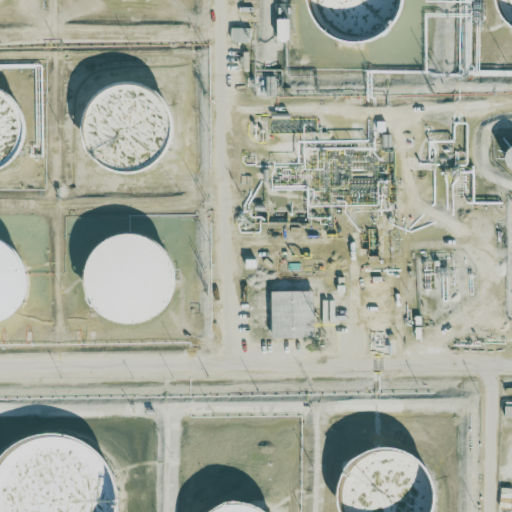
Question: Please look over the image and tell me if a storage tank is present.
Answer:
Yes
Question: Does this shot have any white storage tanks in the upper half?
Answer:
Yes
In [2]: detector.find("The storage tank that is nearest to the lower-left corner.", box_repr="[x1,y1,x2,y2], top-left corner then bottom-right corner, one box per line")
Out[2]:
[0,432,120,512]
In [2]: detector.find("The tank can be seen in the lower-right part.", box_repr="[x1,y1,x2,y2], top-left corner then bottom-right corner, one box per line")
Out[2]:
[336,446,436,512]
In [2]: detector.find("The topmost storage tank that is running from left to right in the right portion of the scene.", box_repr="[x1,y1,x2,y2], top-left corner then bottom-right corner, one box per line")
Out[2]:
[308,0,405,42]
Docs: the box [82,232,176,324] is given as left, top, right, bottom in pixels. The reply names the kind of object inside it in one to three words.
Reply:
storage tank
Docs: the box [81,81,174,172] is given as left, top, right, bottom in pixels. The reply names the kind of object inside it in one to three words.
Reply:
storage tank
